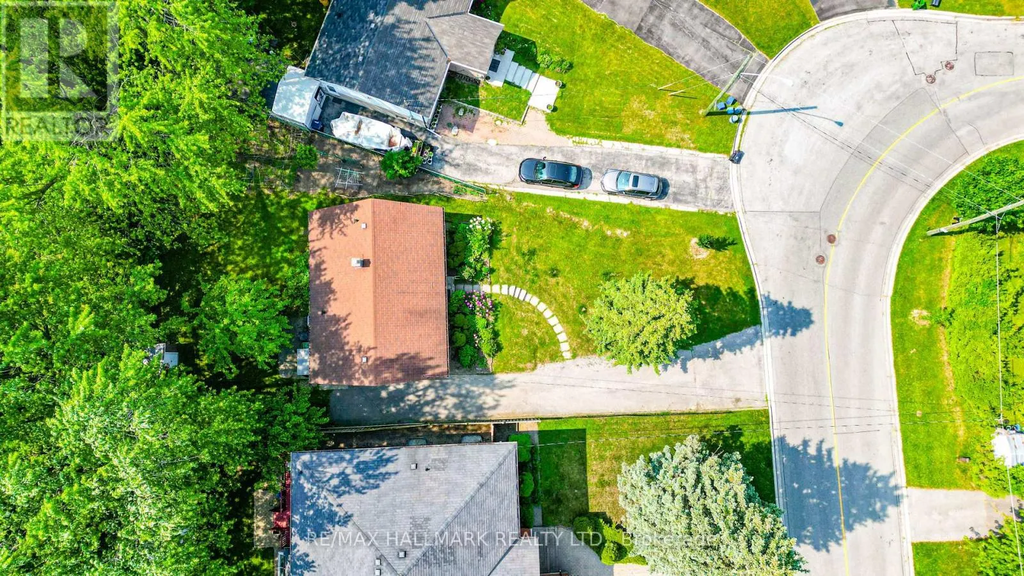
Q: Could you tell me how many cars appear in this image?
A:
2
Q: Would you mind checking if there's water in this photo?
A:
No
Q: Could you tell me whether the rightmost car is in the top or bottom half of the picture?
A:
top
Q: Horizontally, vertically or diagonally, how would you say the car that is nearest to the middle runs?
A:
horizontally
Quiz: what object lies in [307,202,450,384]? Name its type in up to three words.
house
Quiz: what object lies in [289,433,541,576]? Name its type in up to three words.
house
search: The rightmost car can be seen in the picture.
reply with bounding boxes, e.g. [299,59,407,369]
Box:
[601,167,663,201]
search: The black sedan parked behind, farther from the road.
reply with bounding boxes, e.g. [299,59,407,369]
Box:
[519,158,584,192]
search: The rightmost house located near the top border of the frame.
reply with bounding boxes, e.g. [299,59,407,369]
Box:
[303,0,505,127]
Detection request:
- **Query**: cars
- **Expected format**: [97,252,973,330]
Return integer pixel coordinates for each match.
[601,167,663,201]
[519,158,584,192]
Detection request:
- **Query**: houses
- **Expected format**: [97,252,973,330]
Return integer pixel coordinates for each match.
[307,202,450,384]
[303,0,505,127]
[289,433,541,576]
